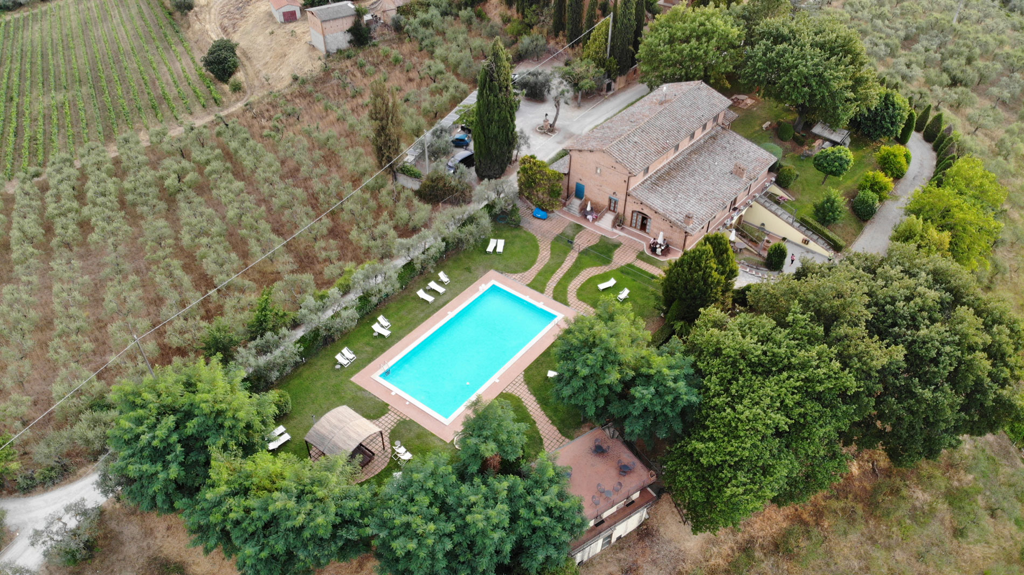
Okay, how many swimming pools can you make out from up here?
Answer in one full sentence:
The count comes to 1 swimming pool.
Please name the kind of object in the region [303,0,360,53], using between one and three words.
barn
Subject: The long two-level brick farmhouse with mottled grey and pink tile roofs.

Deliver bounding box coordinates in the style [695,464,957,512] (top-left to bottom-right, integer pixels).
[560,77,769,250]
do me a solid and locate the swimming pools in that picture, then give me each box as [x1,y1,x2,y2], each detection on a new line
[371,279,565,425]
